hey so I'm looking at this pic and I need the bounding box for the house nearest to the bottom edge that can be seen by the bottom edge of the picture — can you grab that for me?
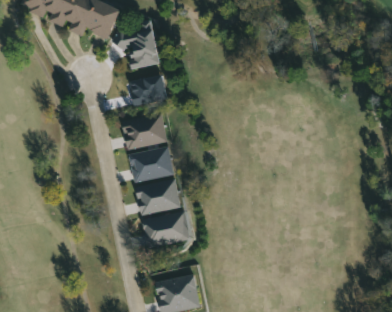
[152,274,202,312]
